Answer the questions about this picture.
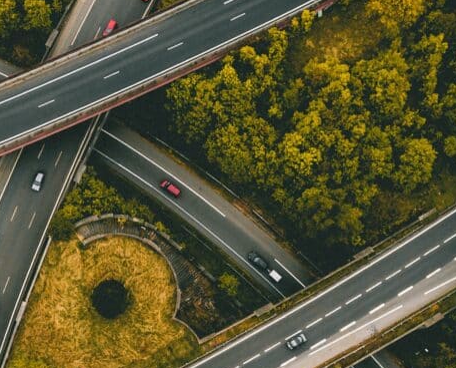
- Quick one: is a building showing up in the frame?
No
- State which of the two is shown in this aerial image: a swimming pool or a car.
car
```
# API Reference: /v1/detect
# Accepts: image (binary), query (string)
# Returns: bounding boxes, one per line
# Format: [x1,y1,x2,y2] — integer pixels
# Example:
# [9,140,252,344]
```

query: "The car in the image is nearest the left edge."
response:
[30,170,45,194]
